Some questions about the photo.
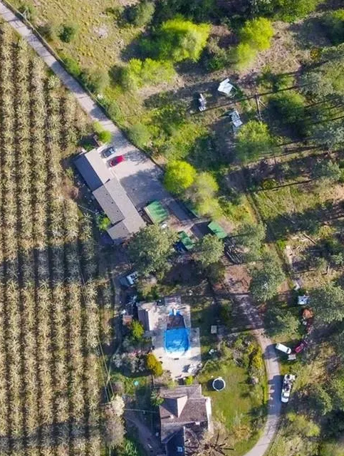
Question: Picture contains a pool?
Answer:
Yes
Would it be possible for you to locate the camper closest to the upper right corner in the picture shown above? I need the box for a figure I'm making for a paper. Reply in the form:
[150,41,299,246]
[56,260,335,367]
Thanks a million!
[218,79,236,96]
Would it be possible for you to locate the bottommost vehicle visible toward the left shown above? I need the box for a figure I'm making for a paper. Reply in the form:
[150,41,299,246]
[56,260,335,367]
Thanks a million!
[119,272,137,287]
